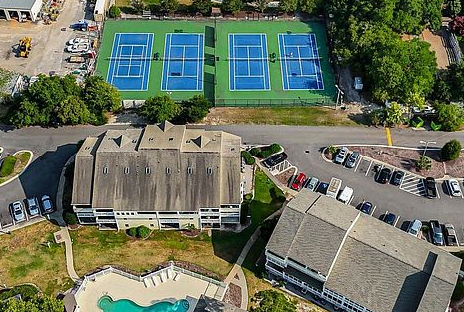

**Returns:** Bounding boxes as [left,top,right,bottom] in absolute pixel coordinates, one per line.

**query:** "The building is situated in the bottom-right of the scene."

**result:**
[265,188,464,312]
